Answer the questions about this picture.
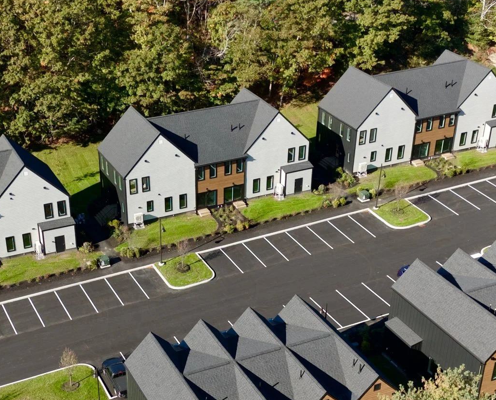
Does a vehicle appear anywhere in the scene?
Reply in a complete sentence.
Yes, this view includes a vehicle.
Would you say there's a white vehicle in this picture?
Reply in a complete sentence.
No, there isn't any white vehicle down there.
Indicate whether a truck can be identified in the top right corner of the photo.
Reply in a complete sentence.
No, no truck is visible in the top right corner of the photo.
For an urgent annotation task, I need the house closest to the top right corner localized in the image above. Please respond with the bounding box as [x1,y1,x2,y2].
[315,51,496,173]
